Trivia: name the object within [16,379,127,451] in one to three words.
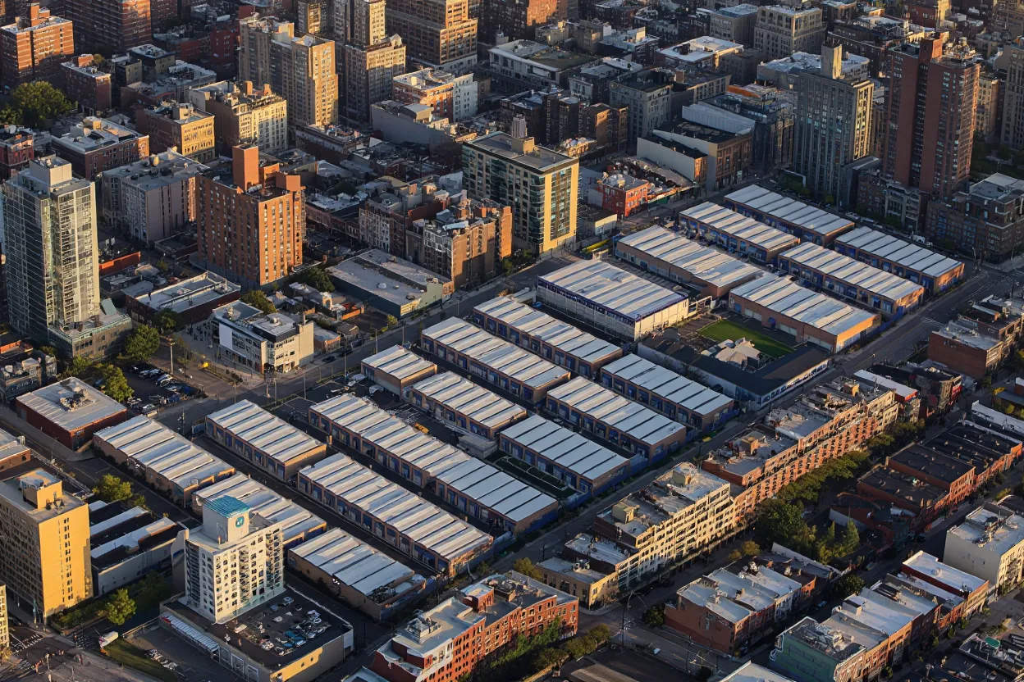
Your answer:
building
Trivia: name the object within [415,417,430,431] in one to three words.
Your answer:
vehicle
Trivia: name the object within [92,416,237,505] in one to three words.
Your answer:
shed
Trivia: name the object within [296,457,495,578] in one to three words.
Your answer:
shed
